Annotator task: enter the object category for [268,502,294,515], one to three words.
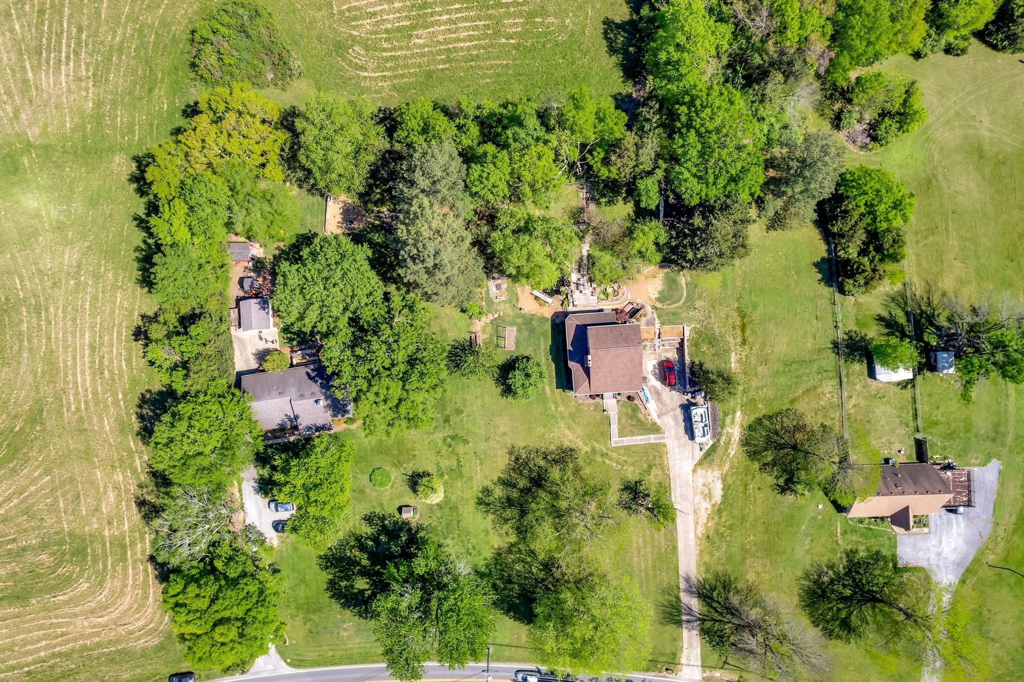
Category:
vehicle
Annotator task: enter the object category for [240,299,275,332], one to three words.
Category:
building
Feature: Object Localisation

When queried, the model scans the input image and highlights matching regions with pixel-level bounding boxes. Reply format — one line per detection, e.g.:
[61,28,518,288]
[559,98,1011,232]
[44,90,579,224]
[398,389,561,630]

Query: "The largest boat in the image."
[692,404,711,444]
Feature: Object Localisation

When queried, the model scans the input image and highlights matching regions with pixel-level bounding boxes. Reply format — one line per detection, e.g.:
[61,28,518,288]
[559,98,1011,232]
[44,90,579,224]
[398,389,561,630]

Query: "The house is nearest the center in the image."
[566,311,643,395]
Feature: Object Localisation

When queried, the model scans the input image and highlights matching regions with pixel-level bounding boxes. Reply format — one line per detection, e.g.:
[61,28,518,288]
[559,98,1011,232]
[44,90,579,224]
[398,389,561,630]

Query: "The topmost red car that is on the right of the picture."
[663,360,678,387]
